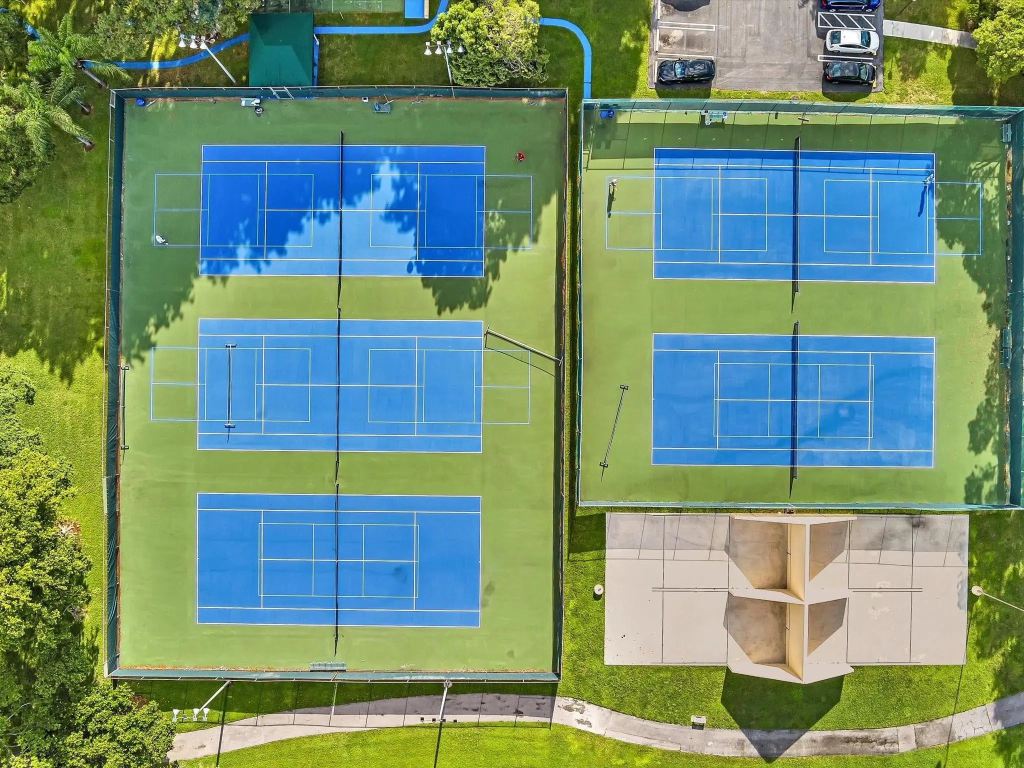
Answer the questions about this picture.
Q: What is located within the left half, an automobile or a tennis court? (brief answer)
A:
tennis court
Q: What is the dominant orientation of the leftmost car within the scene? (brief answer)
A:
from left to right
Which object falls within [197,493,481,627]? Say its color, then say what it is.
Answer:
blue tennis court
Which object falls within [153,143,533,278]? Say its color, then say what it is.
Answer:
blue tennis court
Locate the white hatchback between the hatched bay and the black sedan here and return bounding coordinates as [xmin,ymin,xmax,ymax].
[828,27,882,55]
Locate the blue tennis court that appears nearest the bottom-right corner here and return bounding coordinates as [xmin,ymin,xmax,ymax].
[650,333,937,468]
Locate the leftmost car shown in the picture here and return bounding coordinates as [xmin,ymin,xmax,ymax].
[659,56,717,86]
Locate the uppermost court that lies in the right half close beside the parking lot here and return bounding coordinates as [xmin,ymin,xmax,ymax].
[604,147,985,284]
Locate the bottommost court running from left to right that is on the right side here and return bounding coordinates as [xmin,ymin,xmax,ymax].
[604,513,969,684]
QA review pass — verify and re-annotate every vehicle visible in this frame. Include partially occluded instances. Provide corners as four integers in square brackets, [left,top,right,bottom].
[828,59,878,86]
[828,27,882,55]
[659,56,717,86]
[823,0,881,13]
